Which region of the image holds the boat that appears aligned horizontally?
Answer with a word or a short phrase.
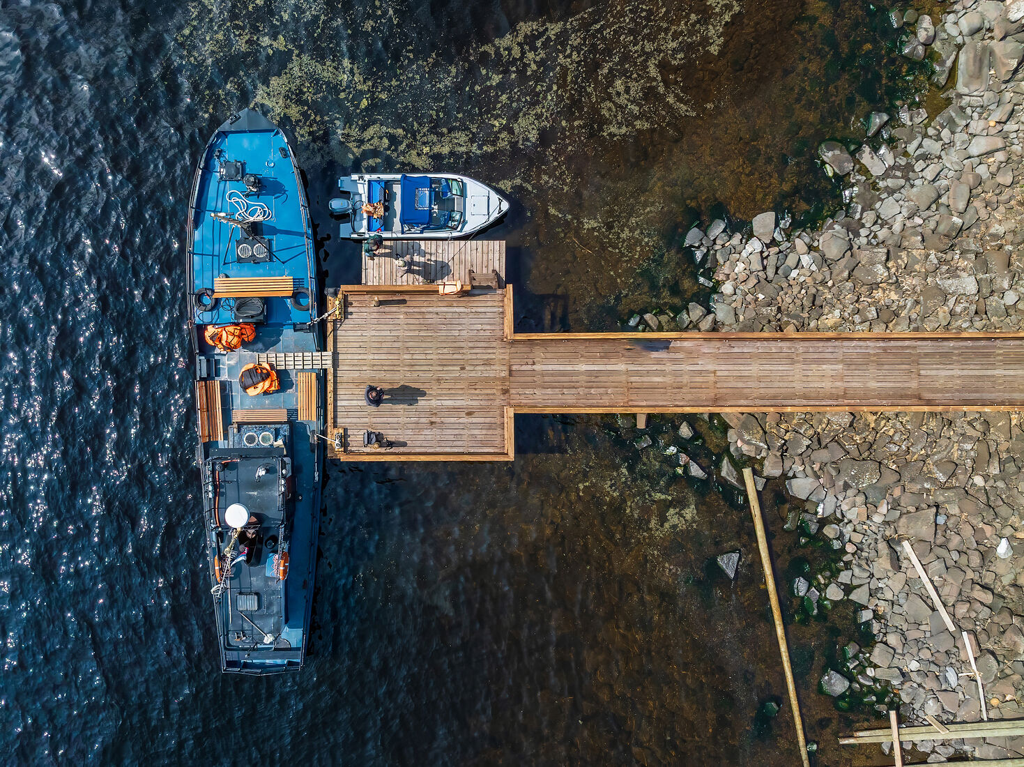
top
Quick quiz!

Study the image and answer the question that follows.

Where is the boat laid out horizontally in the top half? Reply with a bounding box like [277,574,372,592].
[330,173,510,241]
